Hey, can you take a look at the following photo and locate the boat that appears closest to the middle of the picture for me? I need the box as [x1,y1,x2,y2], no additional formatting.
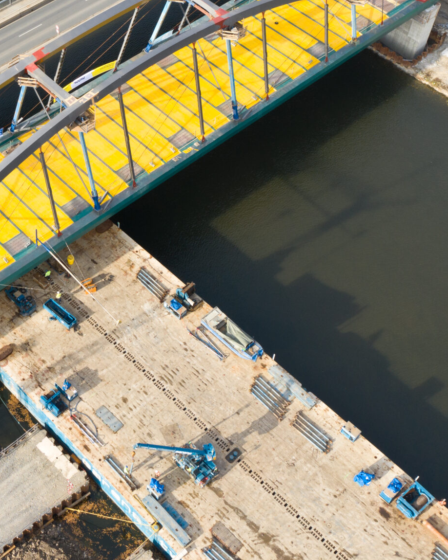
[200,306,262,361]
